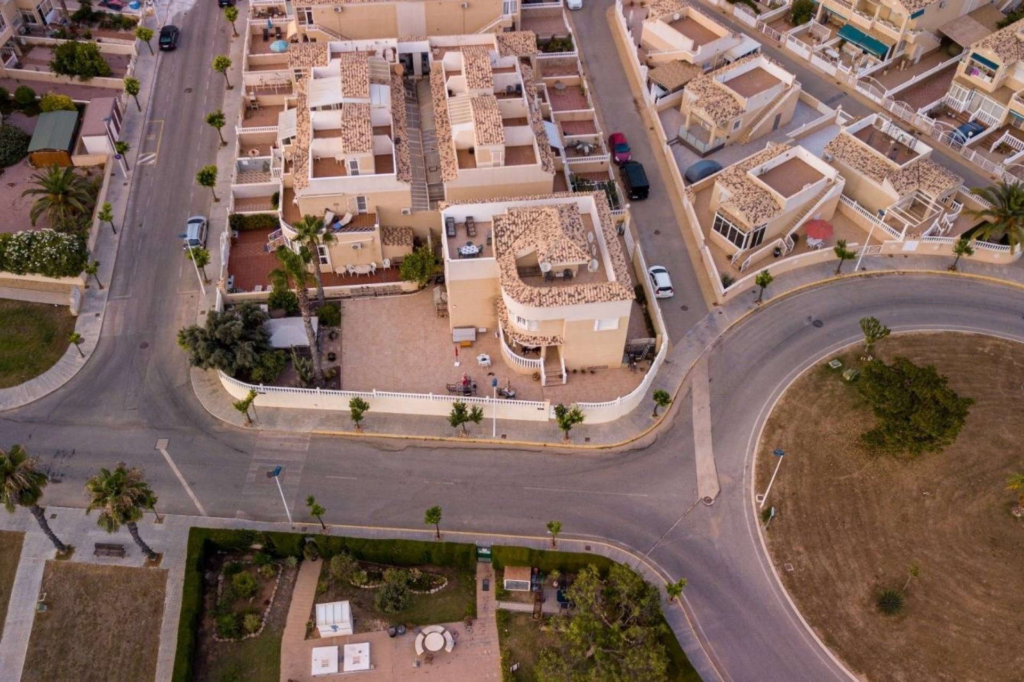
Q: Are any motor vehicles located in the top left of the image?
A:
Yes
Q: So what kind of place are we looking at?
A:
residential area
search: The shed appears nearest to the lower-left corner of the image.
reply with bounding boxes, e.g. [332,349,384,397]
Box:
[314,588,353,637]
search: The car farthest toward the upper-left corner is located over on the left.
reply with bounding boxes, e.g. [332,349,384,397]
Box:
[157,25,180,51]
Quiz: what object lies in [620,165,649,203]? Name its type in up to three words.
car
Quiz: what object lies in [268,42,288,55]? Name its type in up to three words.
umbrella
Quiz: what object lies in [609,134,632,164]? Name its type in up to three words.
car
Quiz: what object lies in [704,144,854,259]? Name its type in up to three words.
house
